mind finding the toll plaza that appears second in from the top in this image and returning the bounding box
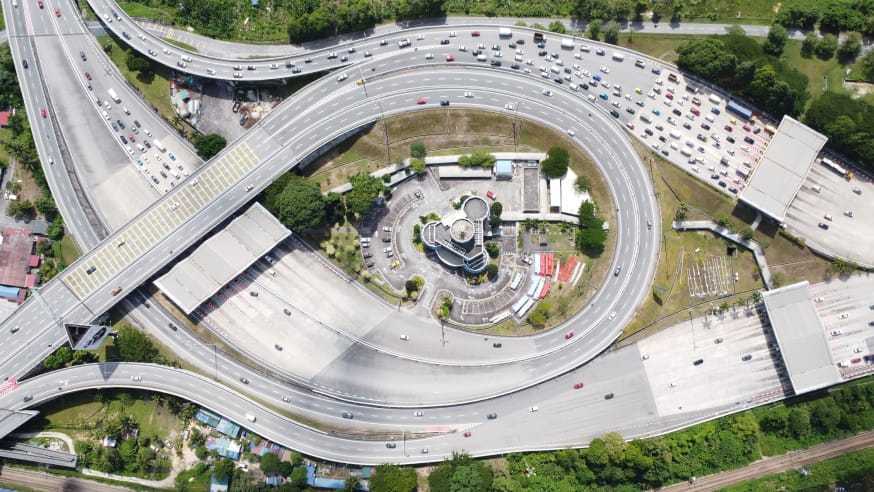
[152,201,271,310]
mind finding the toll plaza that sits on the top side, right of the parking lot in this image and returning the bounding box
[727,114,830,225]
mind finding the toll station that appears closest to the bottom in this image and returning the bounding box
[762,281,850,395]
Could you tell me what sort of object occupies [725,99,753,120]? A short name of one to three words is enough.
vehicle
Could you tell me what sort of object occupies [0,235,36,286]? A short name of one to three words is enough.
building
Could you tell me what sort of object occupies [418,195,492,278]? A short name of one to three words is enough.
building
